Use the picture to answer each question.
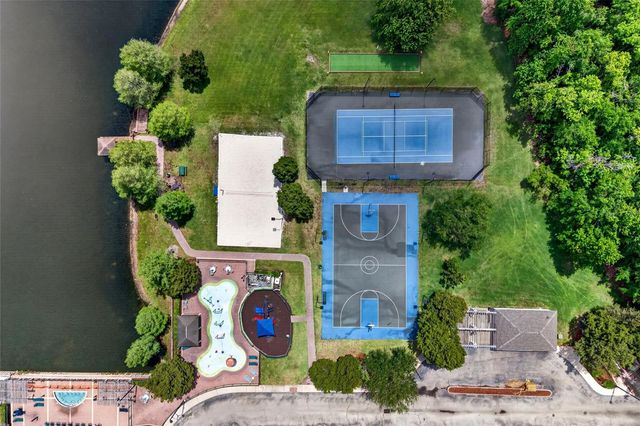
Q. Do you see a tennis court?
Yes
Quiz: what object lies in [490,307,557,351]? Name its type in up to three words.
building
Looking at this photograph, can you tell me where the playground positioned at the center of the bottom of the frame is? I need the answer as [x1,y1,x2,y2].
[240,289,292,358]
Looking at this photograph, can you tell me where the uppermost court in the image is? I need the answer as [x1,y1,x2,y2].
[307,92,484,179]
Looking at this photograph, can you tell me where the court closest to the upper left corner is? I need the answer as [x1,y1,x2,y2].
[217,134,283,247]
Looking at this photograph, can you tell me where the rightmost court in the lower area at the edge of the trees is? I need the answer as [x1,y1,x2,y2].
[322,192,419,339]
